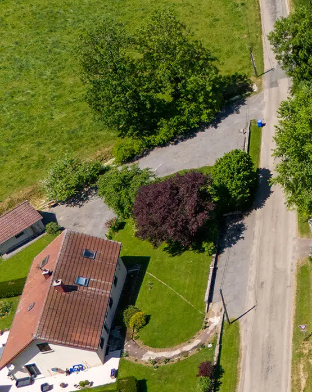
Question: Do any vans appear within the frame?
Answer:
No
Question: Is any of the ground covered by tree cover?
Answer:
Yes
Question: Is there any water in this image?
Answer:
No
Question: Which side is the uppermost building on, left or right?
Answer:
left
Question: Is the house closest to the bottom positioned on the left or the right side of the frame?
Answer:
left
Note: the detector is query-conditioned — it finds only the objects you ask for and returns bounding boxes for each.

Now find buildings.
[0,228,125,377]
[0,198,46,256]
